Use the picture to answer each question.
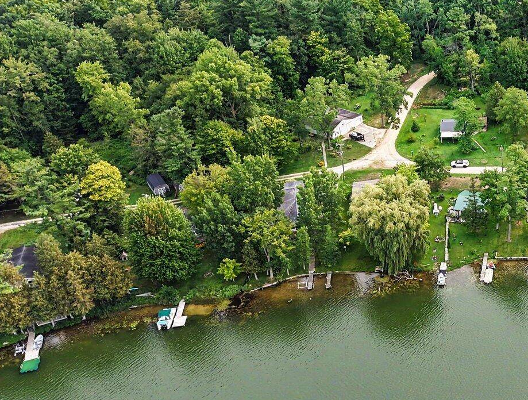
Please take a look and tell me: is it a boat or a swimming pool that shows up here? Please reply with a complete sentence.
There is a boat in the scene.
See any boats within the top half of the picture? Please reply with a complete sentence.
No, no boat can be made out within the top half of the picture.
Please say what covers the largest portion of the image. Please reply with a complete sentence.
The scene is dominated by trees.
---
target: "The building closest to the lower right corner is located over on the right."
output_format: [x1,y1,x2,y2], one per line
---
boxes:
[447,187,482,224]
